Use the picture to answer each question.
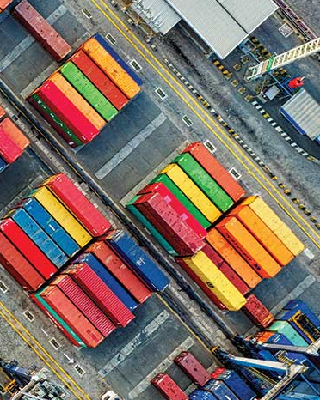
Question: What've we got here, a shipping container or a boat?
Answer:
shipping container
